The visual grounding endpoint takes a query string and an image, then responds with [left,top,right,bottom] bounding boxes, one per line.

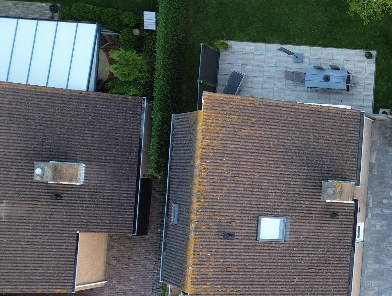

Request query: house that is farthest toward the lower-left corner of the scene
[0,82,153,294]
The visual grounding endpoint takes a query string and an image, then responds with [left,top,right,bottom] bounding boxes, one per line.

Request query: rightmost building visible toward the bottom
[159,91,373,296]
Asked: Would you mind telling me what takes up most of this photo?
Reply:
buildings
